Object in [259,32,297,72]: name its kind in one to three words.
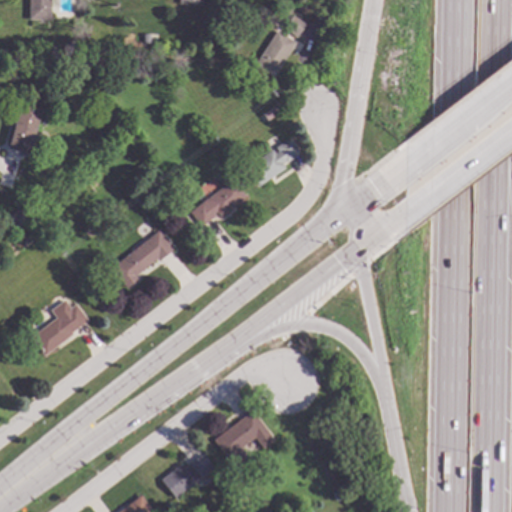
house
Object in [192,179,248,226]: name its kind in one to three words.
house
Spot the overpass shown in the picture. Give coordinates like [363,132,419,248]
[357,60,512,264]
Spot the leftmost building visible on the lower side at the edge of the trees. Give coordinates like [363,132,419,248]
[37,298,90,355]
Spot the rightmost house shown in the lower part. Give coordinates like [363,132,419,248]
[216,410,276,458]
